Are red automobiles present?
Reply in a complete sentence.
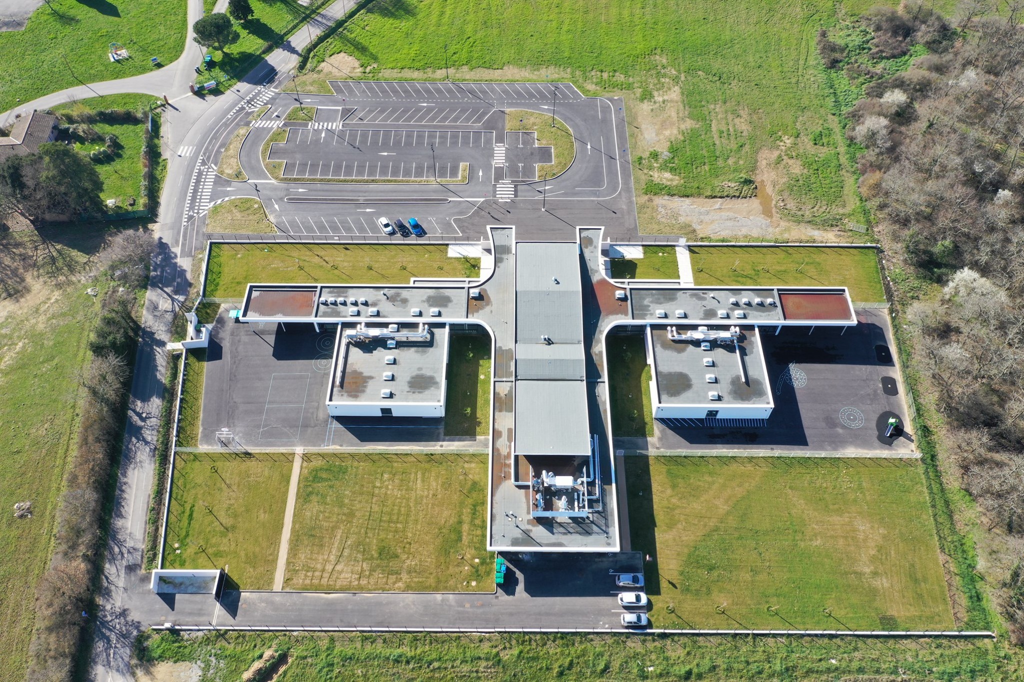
No, no red automobile can be seen from above.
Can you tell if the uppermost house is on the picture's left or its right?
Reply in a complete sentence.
The uppermost house is on the left side of the image.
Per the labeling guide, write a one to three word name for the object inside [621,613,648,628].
car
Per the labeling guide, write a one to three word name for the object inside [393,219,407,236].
car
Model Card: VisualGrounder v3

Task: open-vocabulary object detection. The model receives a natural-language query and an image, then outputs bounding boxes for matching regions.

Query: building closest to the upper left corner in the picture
[0,110,61,163]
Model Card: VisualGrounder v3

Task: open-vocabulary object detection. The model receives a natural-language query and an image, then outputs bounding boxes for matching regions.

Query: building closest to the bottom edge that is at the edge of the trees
[240,226,857,557]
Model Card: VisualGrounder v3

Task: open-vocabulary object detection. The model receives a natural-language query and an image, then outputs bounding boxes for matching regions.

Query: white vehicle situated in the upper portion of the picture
[379,217,393,234]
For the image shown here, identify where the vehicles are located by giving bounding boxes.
[393,219,407,236]
[407,217,421,234]
[379,217,393,234]
[618,592,648,608]
[616,573,643,589]
[621,613,648,628]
